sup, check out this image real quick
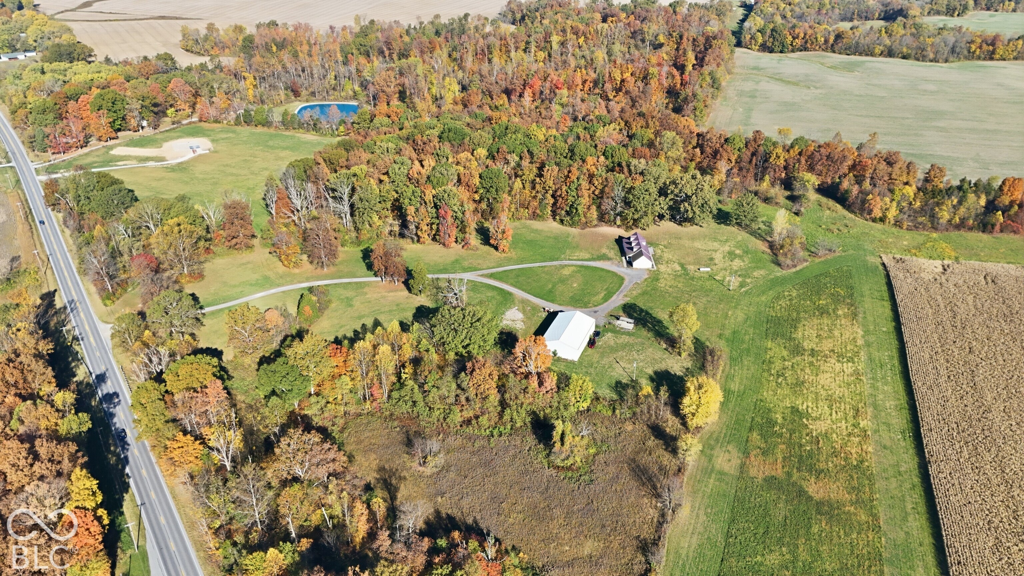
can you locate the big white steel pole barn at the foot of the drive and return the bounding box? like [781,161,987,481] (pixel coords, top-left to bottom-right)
[542,309,596,361]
